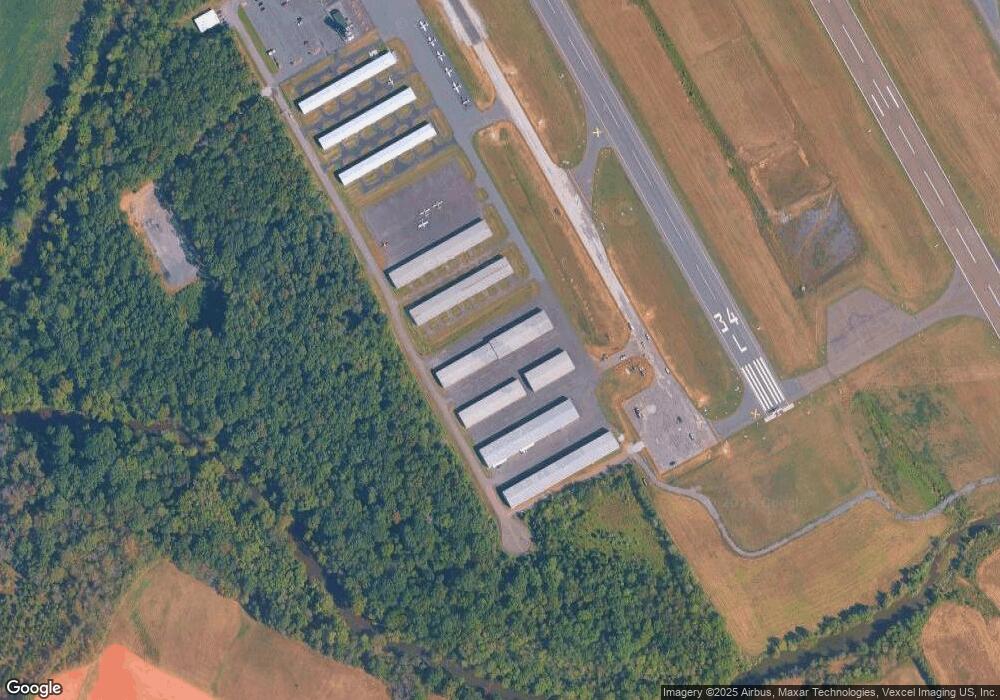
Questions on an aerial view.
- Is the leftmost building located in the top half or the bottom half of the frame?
top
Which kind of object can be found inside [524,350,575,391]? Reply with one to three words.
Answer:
hangar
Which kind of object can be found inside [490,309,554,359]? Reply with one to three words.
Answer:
hangar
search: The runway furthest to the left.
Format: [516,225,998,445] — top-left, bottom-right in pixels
[528,0,793,420]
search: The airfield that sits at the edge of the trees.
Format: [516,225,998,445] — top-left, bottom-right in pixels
[284,0,1000,495]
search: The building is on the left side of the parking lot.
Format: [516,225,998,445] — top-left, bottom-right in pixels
[194,9,220,32]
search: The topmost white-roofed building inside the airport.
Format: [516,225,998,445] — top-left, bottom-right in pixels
[298,50,396,114]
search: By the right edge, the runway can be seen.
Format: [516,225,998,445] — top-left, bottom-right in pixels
[810,0,1000,335]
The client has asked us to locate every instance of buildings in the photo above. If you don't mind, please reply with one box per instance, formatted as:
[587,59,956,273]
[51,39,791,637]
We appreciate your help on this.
[194,9,220,32]
[318,87,416,151]
[503,432,619,509]
[409,257,513,326]
[389,220,493,289]
[524,350,575,391]
[437,344,497,389]
[338,123,437,185]
[458,379,526,429]
[490,309,554,359]
[479,399,580,469]
[298,50,396,114]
